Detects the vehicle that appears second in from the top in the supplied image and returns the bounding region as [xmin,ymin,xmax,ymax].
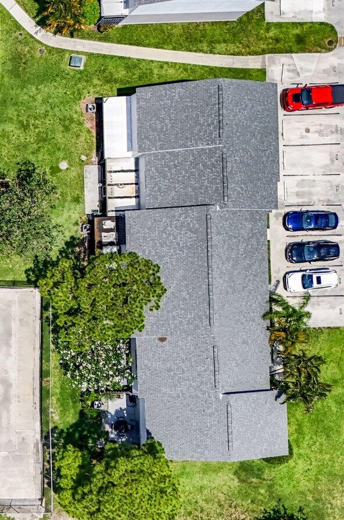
[281,209,337,233]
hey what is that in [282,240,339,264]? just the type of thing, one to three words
car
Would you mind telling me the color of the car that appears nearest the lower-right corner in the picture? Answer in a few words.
white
